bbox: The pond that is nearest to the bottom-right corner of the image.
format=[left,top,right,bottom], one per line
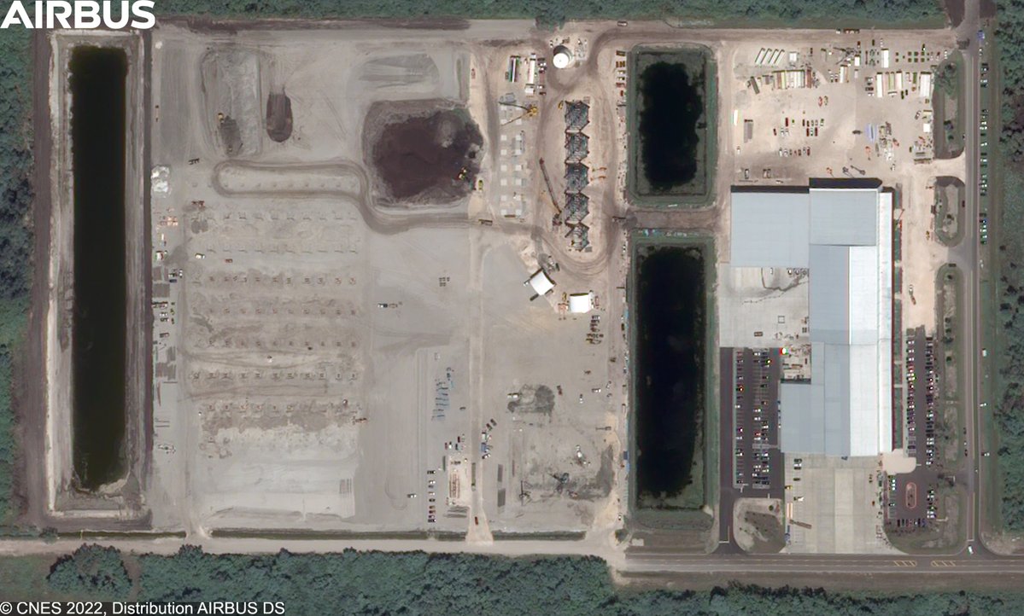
[636,244,705,500]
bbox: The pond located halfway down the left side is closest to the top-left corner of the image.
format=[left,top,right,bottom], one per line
[72,46,128,486]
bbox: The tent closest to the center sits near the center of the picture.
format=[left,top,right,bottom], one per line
[530,268,558,295]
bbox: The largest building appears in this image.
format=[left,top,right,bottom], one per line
[733,181,898,456]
